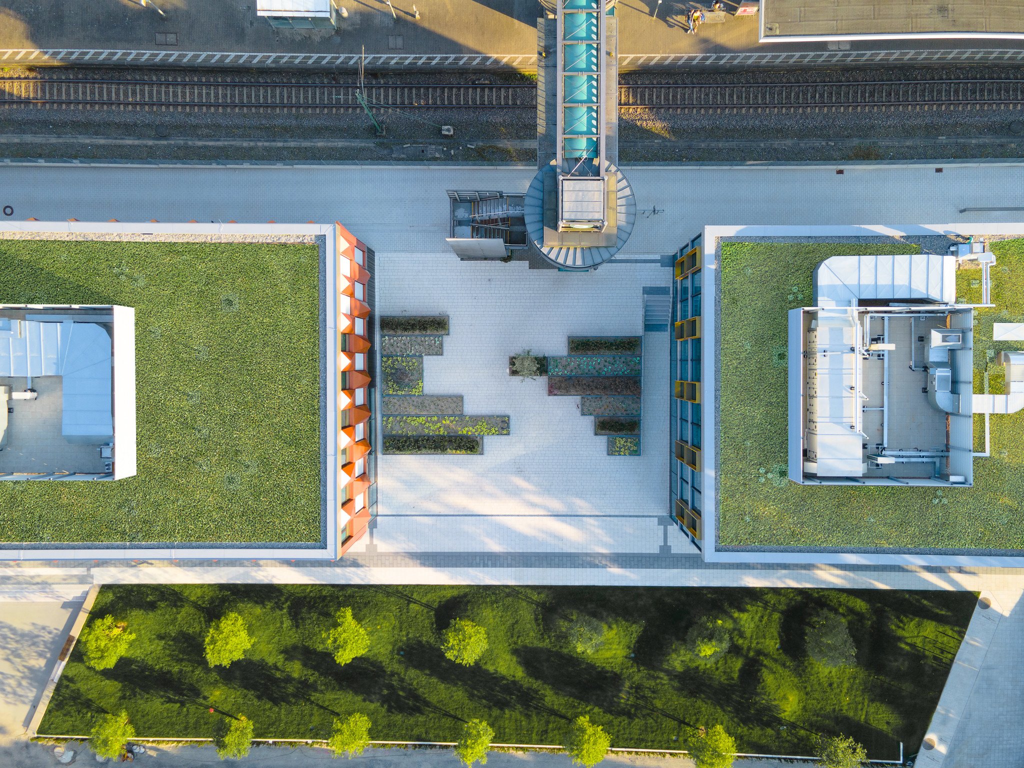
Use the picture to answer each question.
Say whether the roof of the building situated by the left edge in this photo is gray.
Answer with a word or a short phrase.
No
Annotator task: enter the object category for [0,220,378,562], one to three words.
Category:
building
